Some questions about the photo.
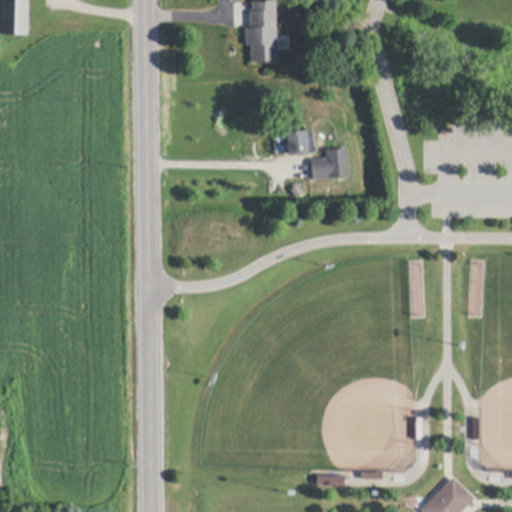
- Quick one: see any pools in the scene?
No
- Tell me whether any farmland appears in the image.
Yes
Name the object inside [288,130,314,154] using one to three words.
building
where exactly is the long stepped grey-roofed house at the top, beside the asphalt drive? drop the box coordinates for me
[246,0,278,62]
